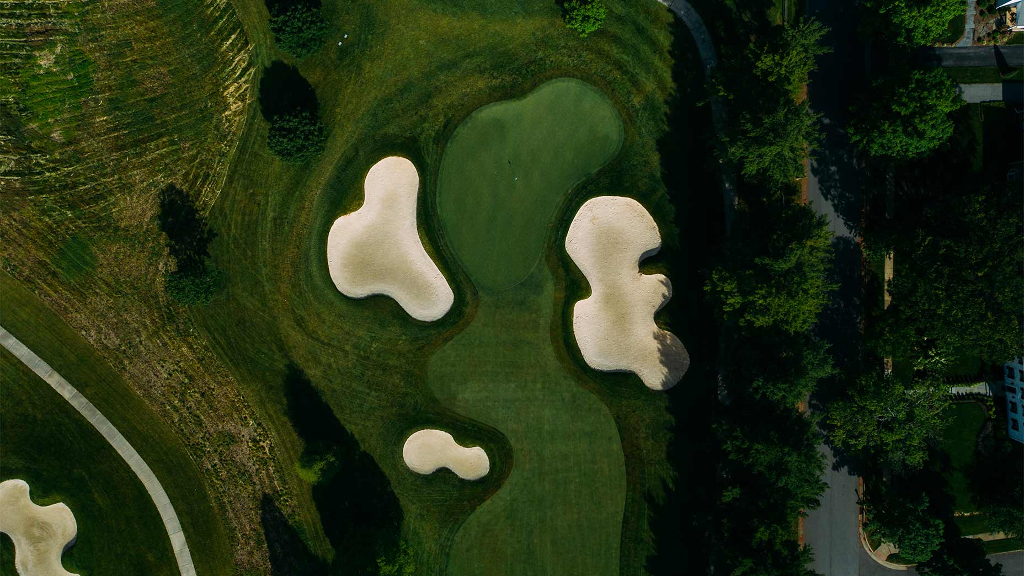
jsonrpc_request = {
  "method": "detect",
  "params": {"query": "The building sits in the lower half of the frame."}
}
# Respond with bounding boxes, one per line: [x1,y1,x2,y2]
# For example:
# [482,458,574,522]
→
[990,360,1024,443]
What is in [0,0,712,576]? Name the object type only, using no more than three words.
golf course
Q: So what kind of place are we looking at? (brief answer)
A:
golf course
